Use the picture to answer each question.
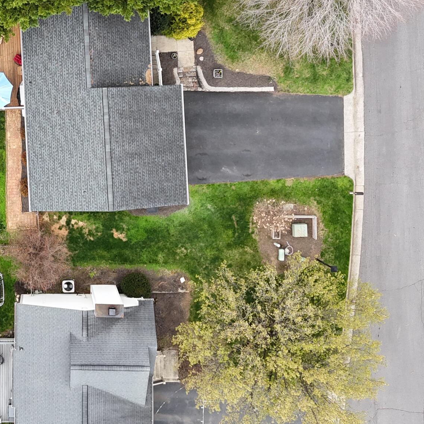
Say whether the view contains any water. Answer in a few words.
No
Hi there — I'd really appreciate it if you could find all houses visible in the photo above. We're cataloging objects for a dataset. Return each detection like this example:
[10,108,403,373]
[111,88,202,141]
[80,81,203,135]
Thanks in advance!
[10,283,157,424]
[18,0,190,213]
